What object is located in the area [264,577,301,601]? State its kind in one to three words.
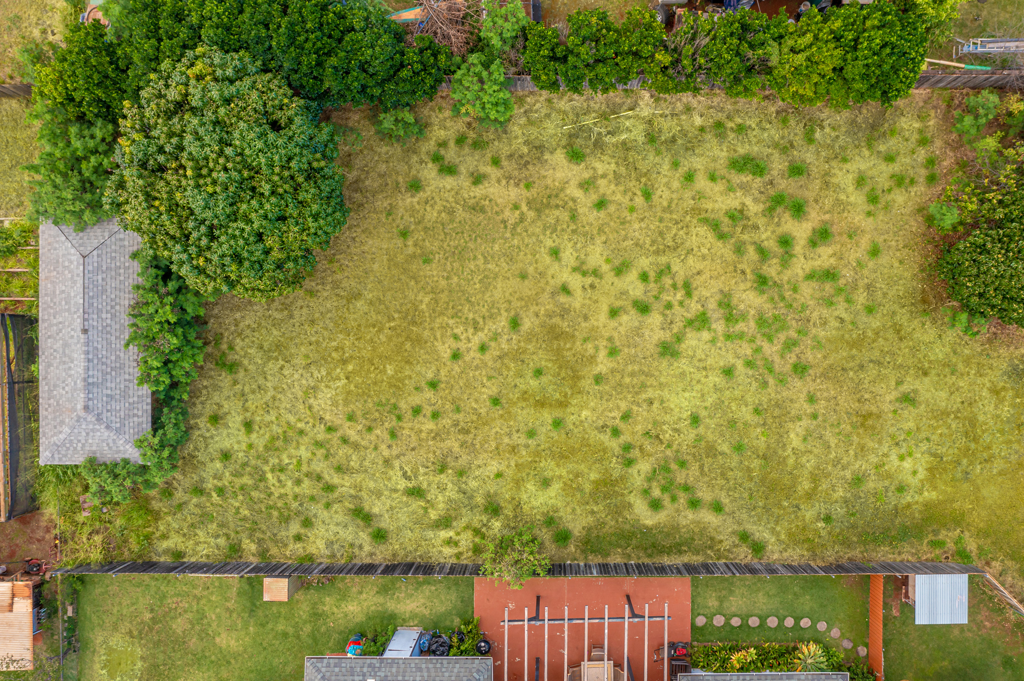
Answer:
shed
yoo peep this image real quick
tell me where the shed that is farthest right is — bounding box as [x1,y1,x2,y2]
[899,569,968,625]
